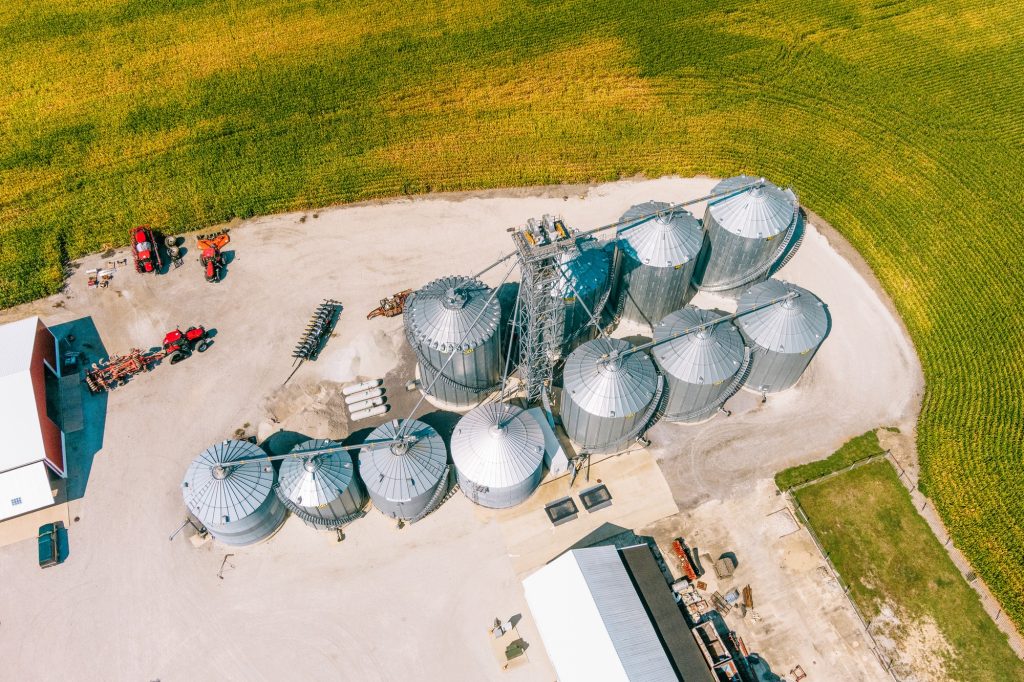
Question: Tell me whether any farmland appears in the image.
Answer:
Yes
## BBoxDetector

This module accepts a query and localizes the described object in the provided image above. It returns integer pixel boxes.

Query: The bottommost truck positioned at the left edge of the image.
[32,521,62,573]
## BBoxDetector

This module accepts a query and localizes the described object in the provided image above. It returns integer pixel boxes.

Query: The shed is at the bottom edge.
[523,541,714,682]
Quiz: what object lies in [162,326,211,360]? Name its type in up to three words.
work vehicle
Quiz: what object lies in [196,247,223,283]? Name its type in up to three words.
work vehicle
